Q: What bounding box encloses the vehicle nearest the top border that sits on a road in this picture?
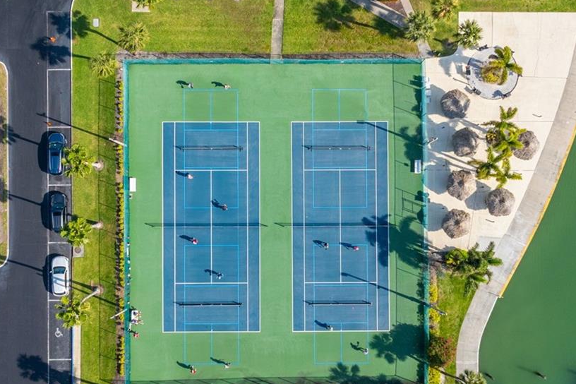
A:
[45,131,66,174]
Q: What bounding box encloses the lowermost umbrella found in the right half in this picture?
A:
[442,209,470,237]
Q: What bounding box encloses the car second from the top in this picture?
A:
[46,190,66,232]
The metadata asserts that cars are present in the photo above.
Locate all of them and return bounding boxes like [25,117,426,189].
[45,131,66,174]
[46,190,66,232]
[49,255,70,296]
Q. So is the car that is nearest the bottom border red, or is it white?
white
